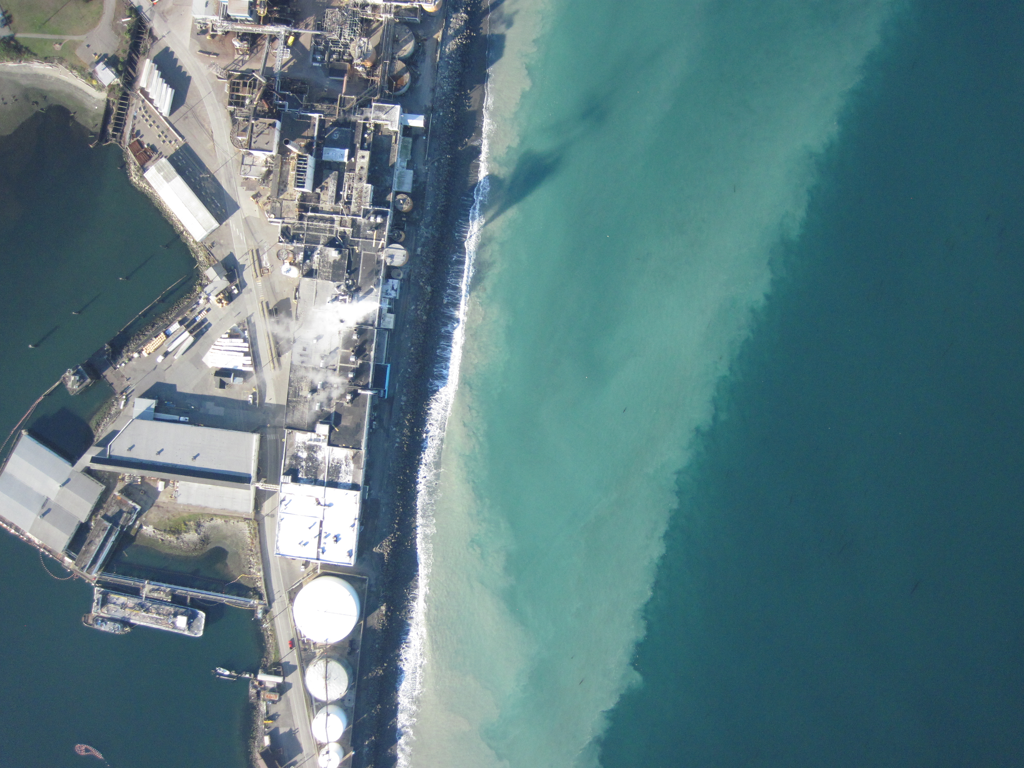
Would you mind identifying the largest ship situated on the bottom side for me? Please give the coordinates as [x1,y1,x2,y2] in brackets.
[92,588,206,637]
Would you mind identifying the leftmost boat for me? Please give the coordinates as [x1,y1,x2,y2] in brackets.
[82,613,132,635]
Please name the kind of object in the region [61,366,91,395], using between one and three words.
pier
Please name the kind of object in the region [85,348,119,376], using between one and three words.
pier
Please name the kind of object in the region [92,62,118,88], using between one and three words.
house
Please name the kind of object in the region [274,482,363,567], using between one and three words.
building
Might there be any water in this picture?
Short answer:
Yes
